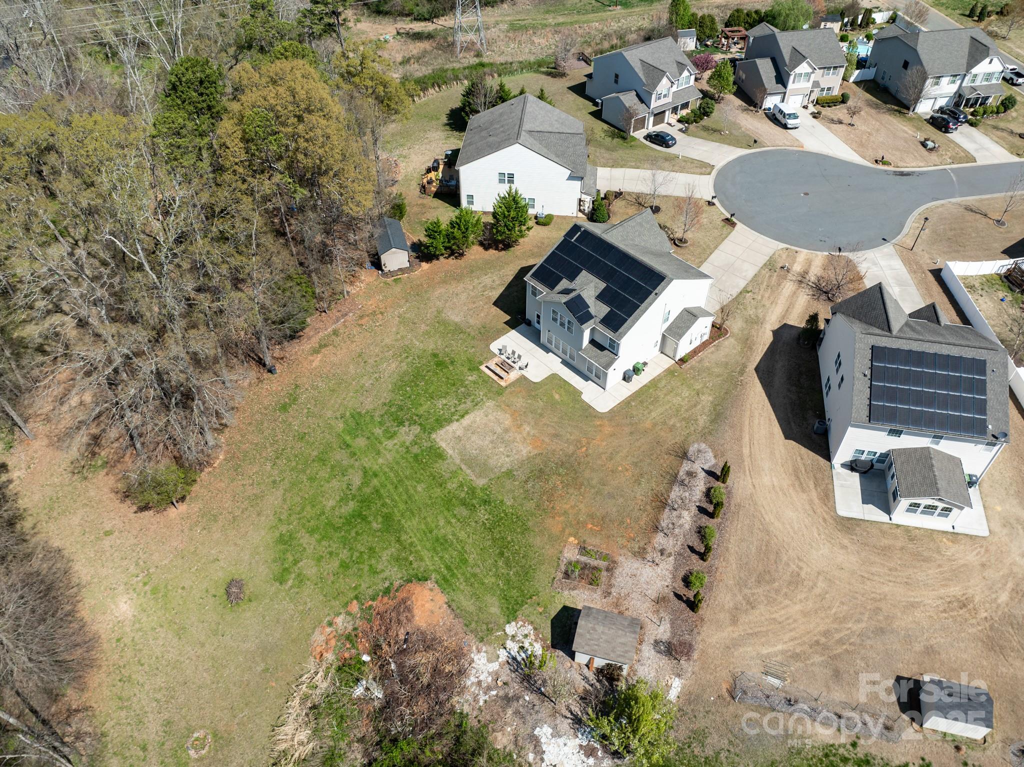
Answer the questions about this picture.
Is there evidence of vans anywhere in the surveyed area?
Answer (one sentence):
Yes, the image includes a van.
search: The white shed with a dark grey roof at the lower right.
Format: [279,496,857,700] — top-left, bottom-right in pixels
[915,669,996,741]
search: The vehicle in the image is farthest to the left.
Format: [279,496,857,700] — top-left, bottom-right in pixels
[644,131,677,147]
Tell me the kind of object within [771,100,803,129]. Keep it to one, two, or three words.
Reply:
van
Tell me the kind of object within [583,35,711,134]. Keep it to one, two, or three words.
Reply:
house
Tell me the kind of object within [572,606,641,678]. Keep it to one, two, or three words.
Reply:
shed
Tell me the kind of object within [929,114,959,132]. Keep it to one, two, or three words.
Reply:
car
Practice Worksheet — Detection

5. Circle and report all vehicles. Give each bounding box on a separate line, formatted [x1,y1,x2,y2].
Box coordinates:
[771,100,803,129]
[644,131,677,147]
[937,104,968,123]
[1006,65,1024,84]
[929,114,959,132]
